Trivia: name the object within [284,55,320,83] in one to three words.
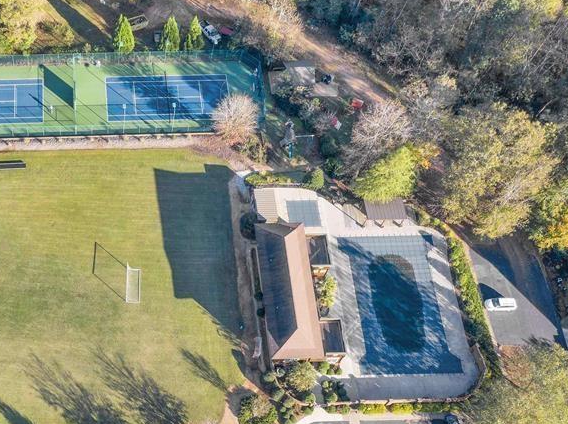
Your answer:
shed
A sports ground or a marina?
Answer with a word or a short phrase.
sports ground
